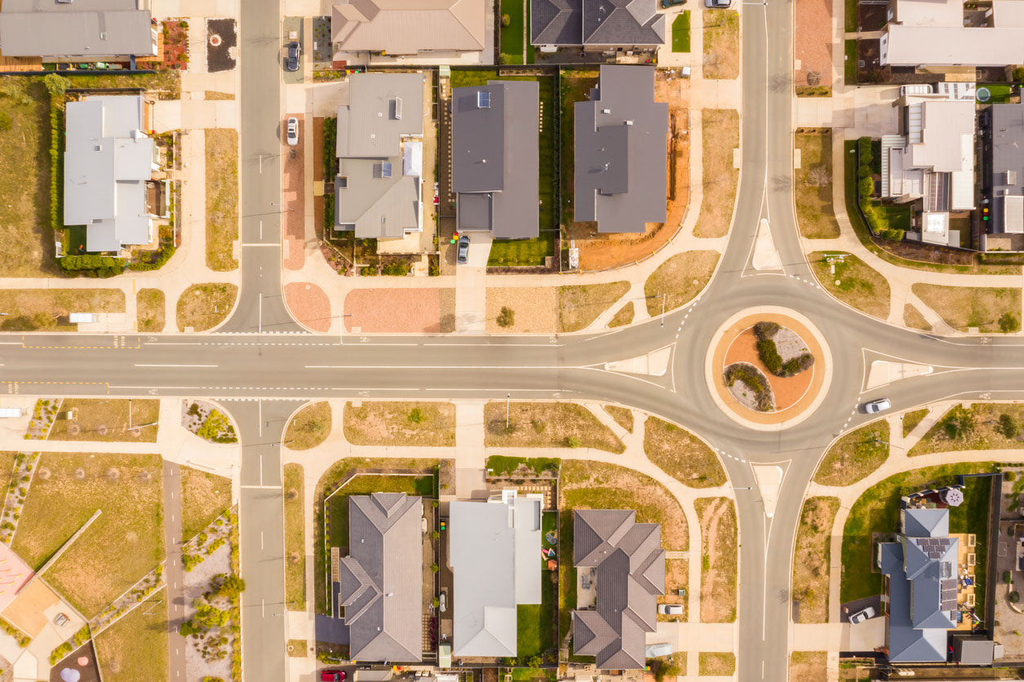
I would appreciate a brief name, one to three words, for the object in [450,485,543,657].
house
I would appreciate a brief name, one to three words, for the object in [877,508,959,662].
house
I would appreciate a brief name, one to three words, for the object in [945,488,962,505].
umbrella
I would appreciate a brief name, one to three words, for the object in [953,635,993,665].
shed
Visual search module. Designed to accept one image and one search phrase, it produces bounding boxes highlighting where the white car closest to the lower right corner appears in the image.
[847,606,875,625]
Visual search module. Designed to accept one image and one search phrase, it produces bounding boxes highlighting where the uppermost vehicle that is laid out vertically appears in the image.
[287,40,301,71]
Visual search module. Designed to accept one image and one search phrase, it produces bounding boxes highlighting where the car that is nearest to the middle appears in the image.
[456,236,469,264]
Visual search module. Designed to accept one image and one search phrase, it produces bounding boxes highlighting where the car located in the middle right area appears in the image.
[863,399,892,414]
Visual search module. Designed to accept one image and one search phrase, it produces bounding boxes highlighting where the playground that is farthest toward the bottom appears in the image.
[50,643,96,682]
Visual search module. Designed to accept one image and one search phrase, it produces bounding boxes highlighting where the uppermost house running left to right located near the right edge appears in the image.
[871,0,1024,74]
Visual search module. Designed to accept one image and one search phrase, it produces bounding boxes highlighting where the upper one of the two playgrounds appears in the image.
[0,544,32,605]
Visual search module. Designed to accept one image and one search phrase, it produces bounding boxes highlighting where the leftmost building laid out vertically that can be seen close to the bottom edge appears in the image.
[340,492,422,662]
